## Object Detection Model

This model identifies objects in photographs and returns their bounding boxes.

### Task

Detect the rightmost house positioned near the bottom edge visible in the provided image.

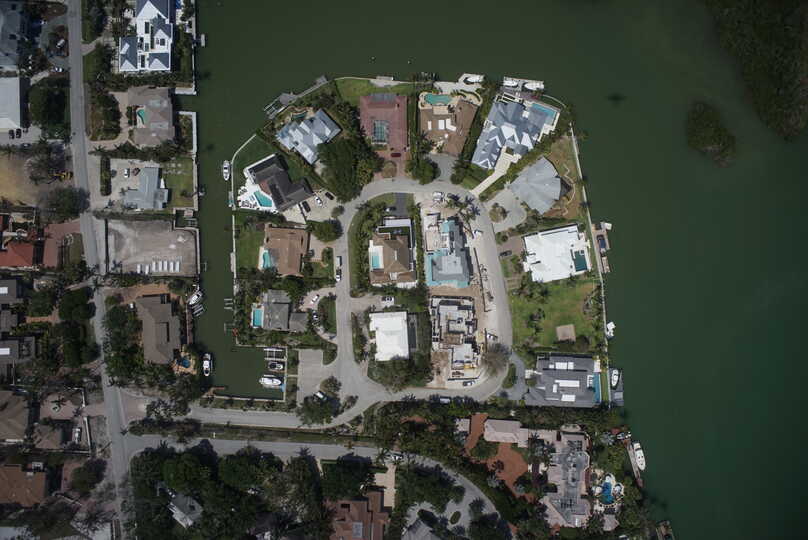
[531,426,590,527]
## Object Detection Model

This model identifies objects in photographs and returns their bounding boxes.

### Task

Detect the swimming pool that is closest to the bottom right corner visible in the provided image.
[599,482,615,504]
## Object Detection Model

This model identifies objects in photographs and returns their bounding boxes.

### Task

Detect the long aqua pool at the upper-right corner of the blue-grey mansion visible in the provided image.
[532,103,556,125]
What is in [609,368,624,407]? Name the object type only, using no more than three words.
pier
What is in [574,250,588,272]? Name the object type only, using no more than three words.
swimming pool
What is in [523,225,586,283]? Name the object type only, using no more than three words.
house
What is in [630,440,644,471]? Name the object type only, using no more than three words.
boat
